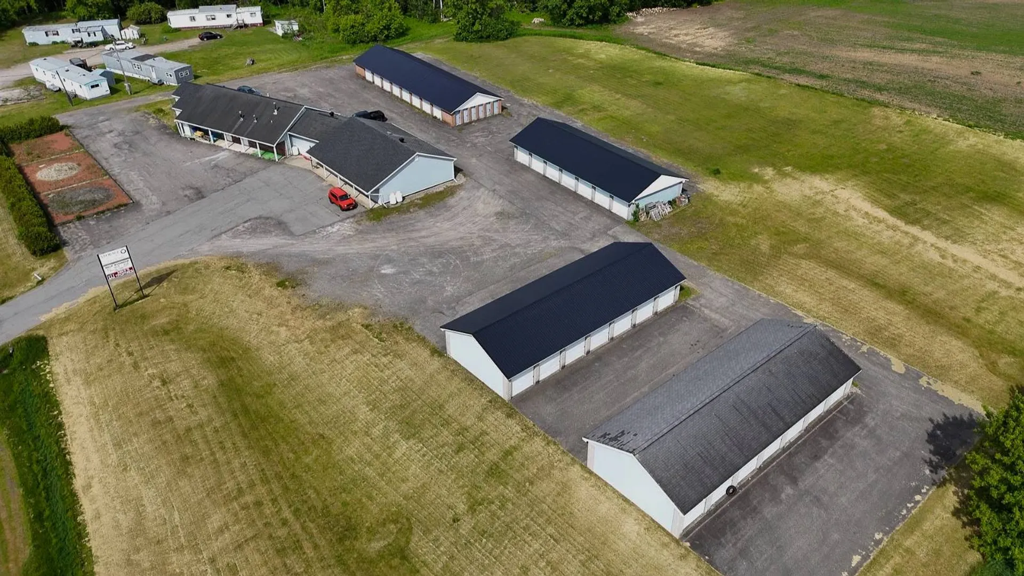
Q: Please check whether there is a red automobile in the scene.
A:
Yes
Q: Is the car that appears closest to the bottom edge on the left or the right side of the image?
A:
left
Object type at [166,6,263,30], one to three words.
house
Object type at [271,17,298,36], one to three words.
shed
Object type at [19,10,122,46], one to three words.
house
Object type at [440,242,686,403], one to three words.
building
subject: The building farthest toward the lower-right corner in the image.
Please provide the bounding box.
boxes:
[583,319,862,538]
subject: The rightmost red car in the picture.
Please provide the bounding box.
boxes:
[326,185,358,211]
